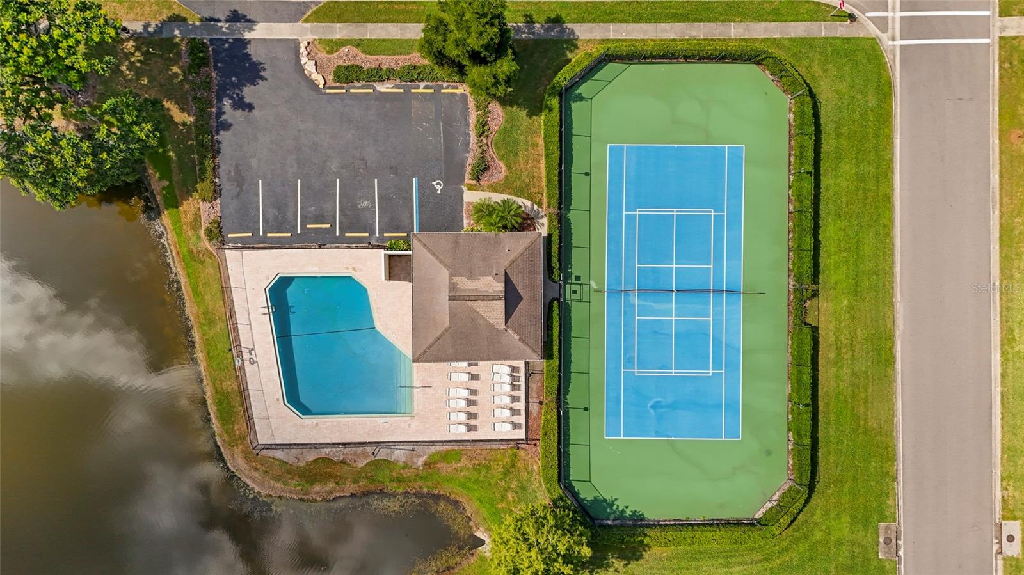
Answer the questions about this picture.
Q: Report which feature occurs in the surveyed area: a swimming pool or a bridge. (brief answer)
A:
swimming pool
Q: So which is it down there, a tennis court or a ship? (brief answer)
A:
tennis court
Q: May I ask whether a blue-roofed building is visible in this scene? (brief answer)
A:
No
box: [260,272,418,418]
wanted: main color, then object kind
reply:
blue swimming pool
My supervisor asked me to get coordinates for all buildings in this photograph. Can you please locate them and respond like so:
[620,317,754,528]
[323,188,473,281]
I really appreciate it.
[411,231,544,364]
